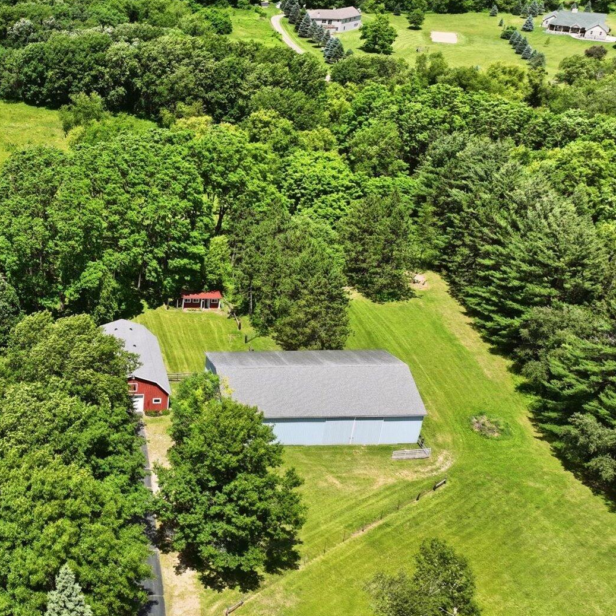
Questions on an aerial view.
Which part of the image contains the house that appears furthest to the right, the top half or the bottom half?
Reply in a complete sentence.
Seen from above, the house that appears furthest to the right lies in the top half of the view.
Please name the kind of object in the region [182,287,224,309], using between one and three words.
shed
